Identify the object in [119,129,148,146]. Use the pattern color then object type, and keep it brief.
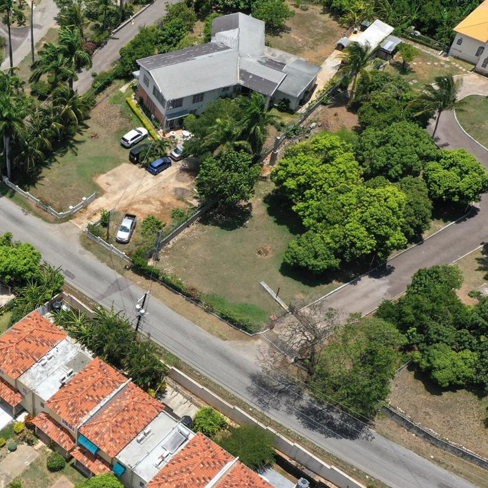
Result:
white car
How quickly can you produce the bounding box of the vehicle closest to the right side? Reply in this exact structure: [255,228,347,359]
[165,142,192,163]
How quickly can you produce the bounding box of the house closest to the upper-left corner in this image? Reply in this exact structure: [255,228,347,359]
[132,11,319,125]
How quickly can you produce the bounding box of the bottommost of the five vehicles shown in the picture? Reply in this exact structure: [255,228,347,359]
[116,213,136,243]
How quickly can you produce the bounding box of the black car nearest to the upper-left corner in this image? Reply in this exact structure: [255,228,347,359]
[125,143,155,163]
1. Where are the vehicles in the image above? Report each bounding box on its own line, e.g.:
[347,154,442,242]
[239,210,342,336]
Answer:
[119,129,148,146]
[165,142,192,163]
[125,143,155,163]
[116,213,136,243]
[145,158,172,175]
